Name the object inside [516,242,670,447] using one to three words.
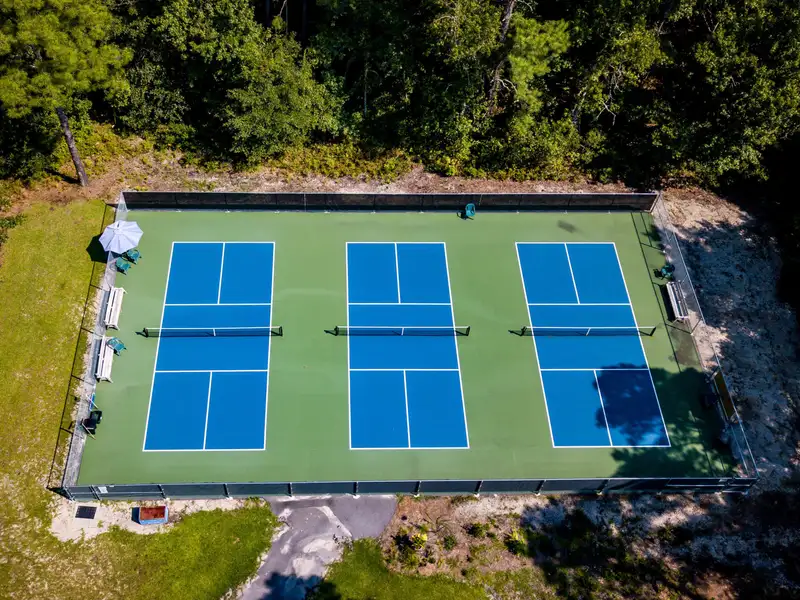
sports court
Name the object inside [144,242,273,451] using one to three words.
sports court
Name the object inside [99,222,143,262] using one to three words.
umbrella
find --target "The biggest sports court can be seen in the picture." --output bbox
[73,210,743,502]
